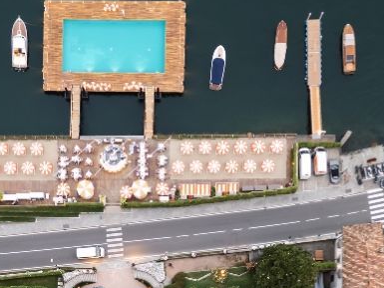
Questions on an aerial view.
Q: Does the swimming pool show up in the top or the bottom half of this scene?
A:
top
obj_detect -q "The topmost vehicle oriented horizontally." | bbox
[76,244,105,258]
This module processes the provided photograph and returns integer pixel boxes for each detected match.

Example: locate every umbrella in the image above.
[180,141,194,155]
[3,162,16,176]
[40,162,52,175]
[251,140,265,154]
[243,160,256,174]
[198,141,212,155]
[270,141,283,155]
[261,161,275,174]
[172,161,185,174]
[12,143,26,156]
[208,160,221,173]
[30,143,43,156]
[234,141,247,155]
[190,160,203,174]
[76,180,94,200]
[225,161,238,174]
[155,183,169,197]
[217,141,229,155]
[131,180,151,200]
[119,187,132,199]
[58,183,70,197]
[22,162,34,175]
[0,143,9,156]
